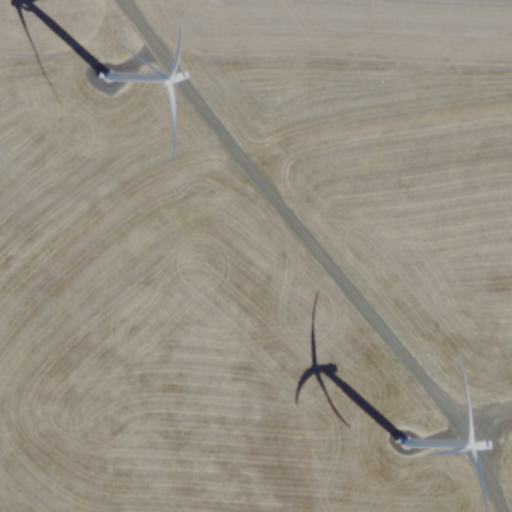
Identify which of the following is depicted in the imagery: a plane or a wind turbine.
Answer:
wind turbine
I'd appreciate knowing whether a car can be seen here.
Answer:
No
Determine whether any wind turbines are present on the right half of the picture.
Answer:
Yes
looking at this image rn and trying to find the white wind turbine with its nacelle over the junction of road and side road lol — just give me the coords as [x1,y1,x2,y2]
[400,356,491,512]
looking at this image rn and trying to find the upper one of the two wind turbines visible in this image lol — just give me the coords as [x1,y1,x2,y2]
[102,21,190,159]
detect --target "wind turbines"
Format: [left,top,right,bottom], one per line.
[400,356,491,512]
[102,21,190,159]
